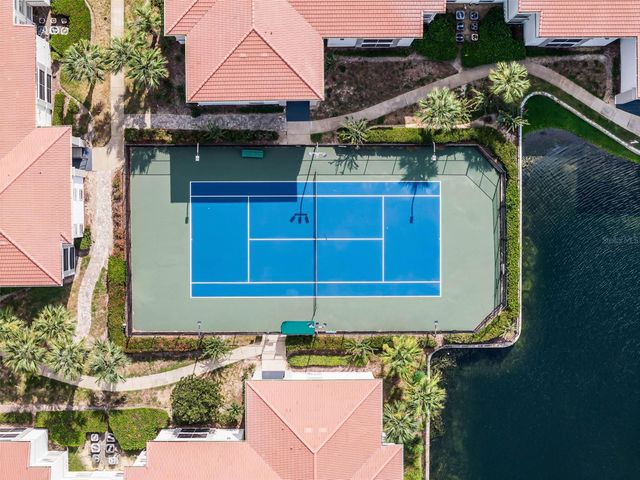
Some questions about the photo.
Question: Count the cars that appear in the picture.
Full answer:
I count no cars.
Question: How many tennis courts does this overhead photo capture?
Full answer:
Only 1 tennis court is visible.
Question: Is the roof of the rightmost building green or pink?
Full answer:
The roof of the rightmost building is pink.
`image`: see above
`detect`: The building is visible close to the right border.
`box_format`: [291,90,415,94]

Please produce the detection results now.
[506,0,640,118]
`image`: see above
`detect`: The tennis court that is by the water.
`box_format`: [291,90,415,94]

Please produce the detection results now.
[131,148,502,331]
